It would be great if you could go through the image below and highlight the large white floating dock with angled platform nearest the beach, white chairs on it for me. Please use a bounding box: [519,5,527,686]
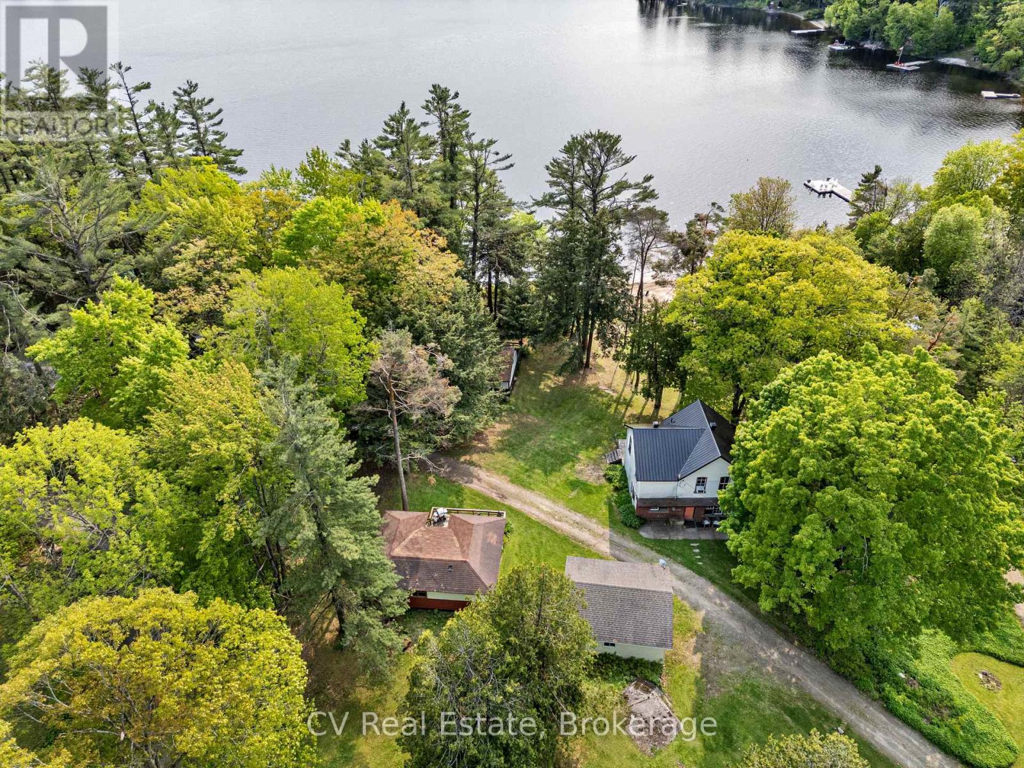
[804,180,874,209]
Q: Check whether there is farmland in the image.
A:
No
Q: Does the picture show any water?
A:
Yes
